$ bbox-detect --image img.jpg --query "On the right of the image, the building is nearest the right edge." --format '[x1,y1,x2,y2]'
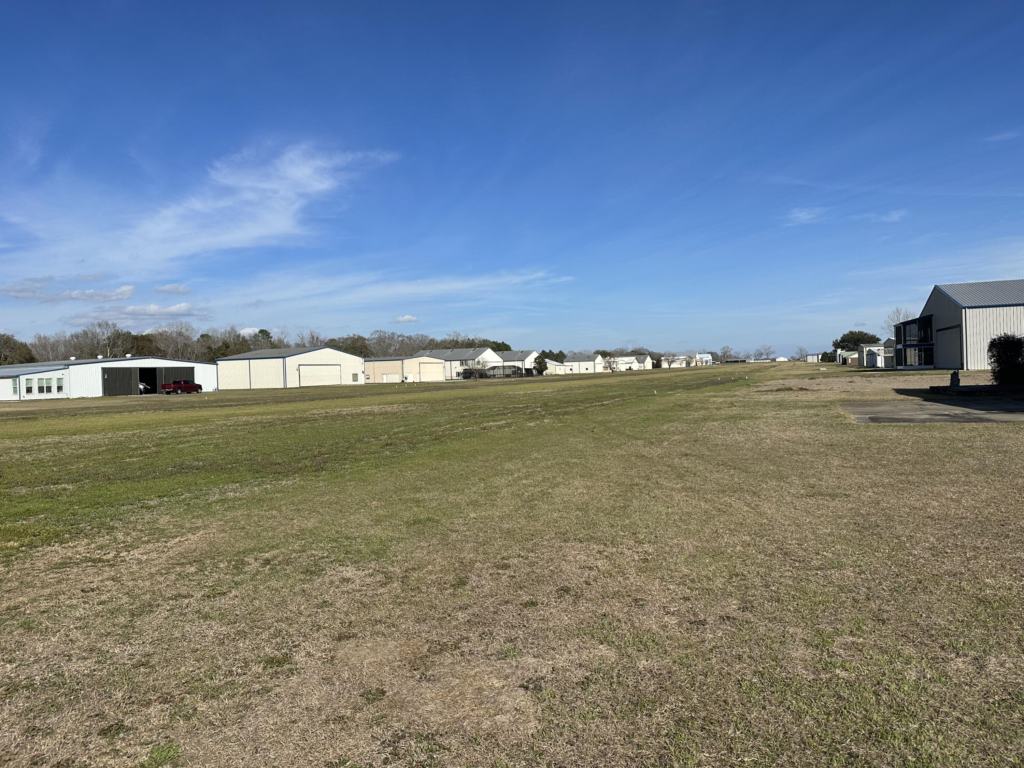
[890,278,1024,370]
